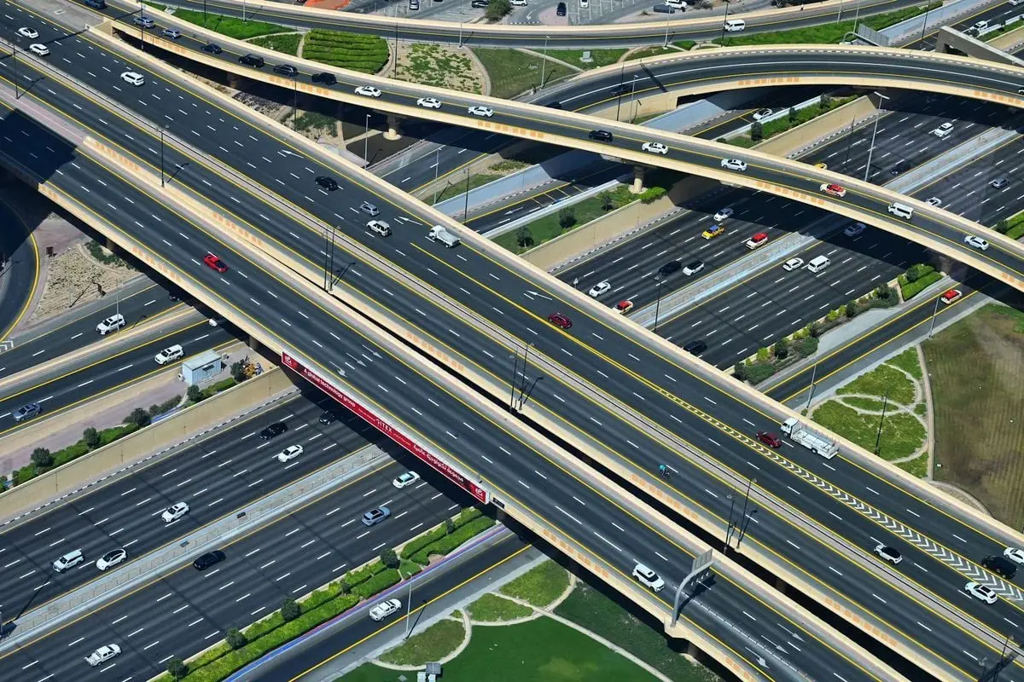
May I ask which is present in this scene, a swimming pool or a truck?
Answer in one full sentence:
It is a truck that can be seen here.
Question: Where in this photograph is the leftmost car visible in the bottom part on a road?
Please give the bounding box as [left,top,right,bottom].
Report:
[12,402,42,421]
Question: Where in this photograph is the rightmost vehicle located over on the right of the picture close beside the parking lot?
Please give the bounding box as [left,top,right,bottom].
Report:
[725,19,745,31]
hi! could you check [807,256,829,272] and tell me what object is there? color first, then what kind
white vehicle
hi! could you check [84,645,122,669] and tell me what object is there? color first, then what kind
white truck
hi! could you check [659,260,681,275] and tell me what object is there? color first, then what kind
black car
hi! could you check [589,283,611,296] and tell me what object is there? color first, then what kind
white vehicle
